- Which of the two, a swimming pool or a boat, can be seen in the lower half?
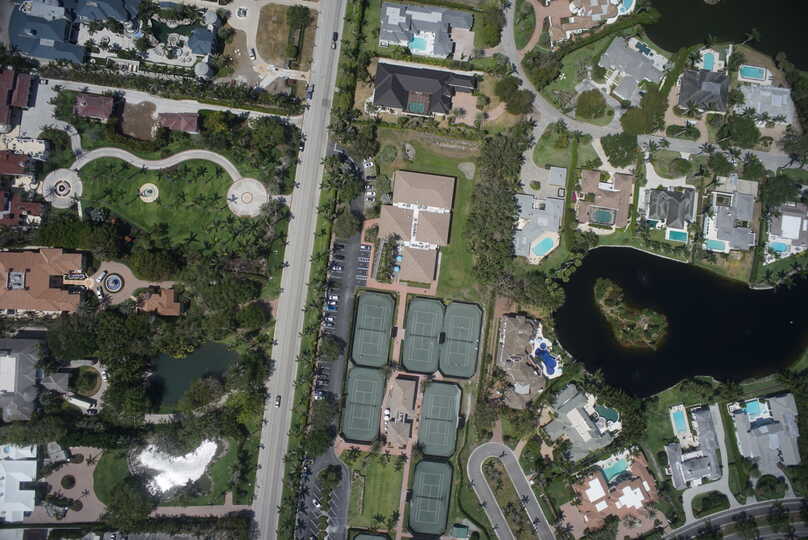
swimming pool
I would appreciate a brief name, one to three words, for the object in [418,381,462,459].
tennis court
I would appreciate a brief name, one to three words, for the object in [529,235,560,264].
swimming pool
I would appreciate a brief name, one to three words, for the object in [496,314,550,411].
house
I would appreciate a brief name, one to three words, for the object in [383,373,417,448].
building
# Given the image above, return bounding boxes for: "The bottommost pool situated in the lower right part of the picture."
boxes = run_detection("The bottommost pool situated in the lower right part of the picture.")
[600,453,635,482]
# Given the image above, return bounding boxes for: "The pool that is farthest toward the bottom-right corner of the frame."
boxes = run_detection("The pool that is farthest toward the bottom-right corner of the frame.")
[731,399,768,422]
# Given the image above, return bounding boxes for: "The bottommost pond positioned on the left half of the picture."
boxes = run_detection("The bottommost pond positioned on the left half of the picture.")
[130,436,230,500]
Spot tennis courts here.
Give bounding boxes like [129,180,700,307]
[418,381,462,459]
[402,297,446,374]
[410,459,454,538]
[341,366,386,444]
[351,292,396,369]
[440,300,484,378]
